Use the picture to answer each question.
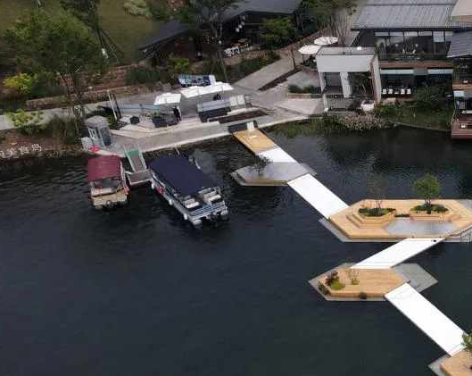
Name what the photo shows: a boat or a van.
boat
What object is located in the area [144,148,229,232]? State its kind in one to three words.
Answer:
boat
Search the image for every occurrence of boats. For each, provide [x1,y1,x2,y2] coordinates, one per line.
[79,151,128,211]
[144,148,229,232]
